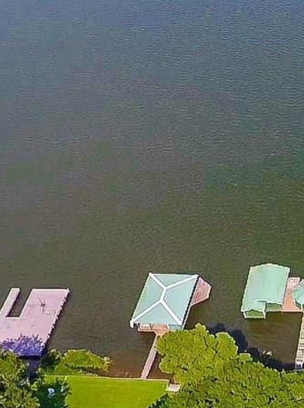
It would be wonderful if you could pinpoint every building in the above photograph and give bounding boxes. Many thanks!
[239,262,290,327]
[131,272,198,337]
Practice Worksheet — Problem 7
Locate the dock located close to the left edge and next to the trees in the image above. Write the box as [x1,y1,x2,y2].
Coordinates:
[0,287,71,357]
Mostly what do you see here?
water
